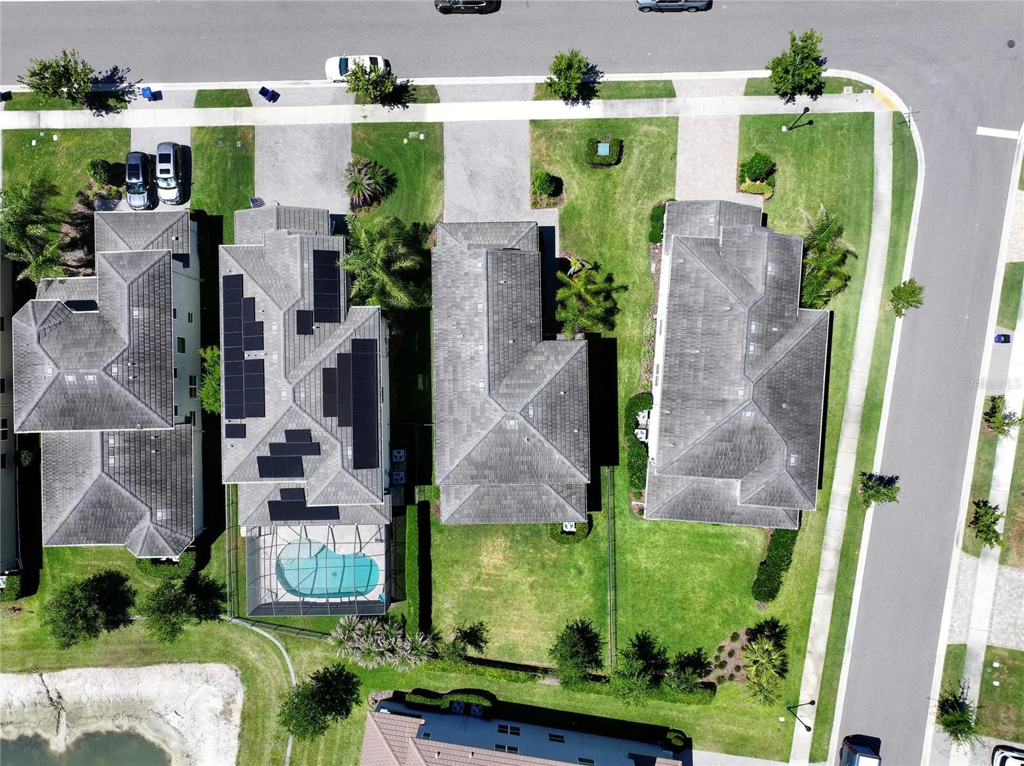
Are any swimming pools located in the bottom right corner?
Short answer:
No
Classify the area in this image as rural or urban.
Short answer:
urban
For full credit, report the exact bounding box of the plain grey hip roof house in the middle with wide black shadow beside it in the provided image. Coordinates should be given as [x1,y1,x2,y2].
[430,220,591,526]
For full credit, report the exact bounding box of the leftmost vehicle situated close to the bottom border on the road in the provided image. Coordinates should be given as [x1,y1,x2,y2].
[839,734,872,766]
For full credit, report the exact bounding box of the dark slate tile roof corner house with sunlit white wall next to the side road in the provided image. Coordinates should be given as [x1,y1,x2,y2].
[643,200,832,531]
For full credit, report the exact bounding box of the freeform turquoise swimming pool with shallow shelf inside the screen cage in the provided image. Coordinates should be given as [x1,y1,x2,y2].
[276,538,379,598]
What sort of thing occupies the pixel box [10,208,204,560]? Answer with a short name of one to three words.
house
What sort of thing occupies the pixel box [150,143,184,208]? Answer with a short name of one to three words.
car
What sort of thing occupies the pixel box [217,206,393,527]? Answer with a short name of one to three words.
house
